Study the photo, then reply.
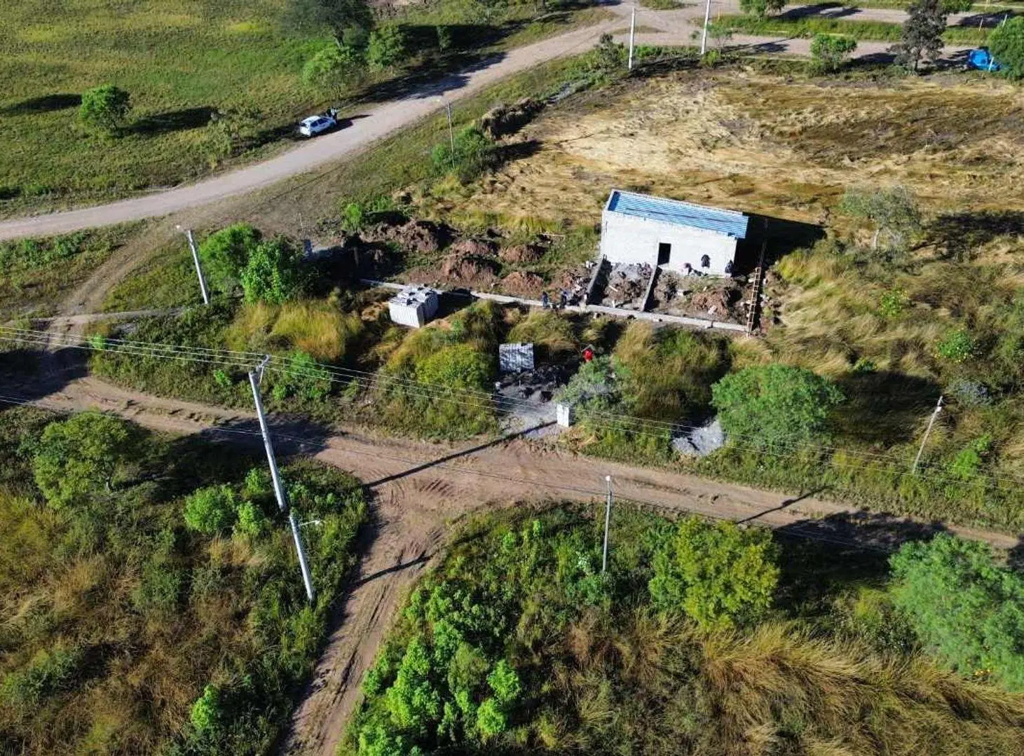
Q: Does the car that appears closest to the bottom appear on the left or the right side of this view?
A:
left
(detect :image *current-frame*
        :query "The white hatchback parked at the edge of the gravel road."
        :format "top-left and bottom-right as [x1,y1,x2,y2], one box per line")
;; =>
[300,115,336,136]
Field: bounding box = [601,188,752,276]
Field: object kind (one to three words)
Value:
building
